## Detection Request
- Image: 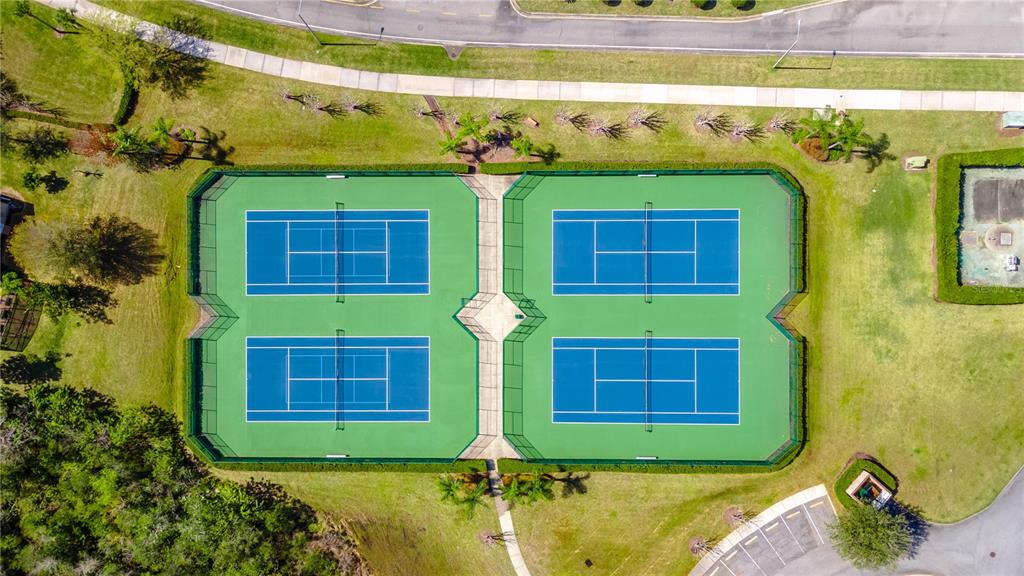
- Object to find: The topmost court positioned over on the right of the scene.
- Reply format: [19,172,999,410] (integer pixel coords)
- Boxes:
[505,173,789,317]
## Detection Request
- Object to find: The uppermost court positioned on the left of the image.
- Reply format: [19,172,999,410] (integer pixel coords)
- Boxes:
[206,175,477,316]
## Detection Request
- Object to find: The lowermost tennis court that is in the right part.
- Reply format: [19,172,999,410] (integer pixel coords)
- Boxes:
[505,316,789,460]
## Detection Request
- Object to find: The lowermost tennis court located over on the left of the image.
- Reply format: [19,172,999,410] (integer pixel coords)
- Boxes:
[206,316,478,458]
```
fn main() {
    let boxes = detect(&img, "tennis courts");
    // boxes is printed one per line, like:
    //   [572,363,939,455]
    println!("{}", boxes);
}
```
[505,316,789,460]
[206,316,478,458]
[206,175,477,316]
[505,173,789,317]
